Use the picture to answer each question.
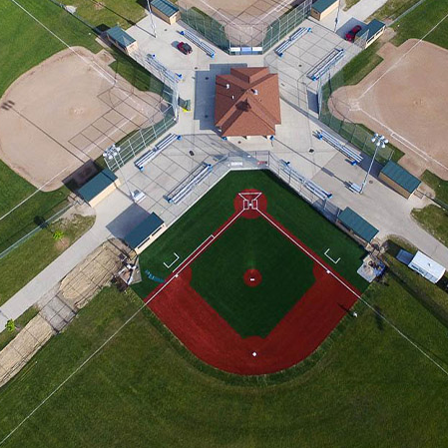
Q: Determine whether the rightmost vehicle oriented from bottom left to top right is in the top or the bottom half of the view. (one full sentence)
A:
You can find the rightmost vehicle oriented from bottom left to top right in the top half.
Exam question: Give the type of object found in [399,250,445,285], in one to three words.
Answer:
trailer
